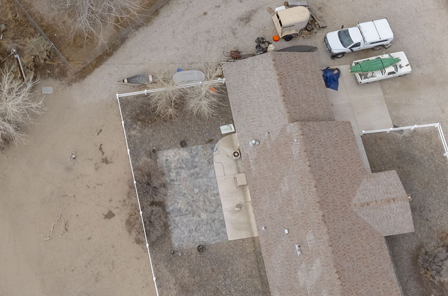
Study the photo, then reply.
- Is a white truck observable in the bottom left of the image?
No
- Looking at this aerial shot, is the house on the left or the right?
right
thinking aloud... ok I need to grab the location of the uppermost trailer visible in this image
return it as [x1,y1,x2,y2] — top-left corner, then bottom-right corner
[268,8,314,37]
